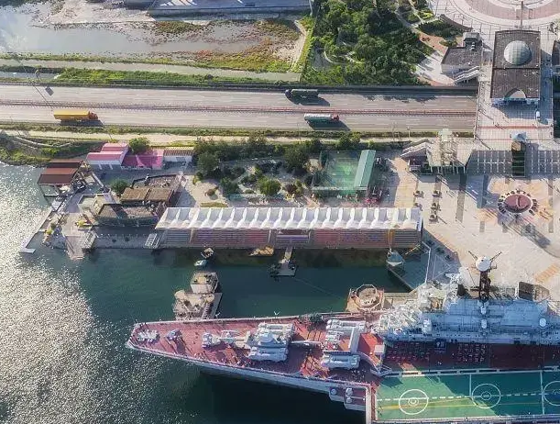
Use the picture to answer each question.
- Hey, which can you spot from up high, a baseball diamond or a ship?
ship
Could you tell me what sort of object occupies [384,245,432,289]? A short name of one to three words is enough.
pier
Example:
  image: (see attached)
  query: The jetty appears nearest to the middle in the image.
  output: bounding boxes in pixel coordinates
[274,250,296,278]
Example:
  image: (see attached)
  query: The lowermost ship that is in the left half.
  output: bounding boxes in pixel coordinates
[172,289,222,320]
